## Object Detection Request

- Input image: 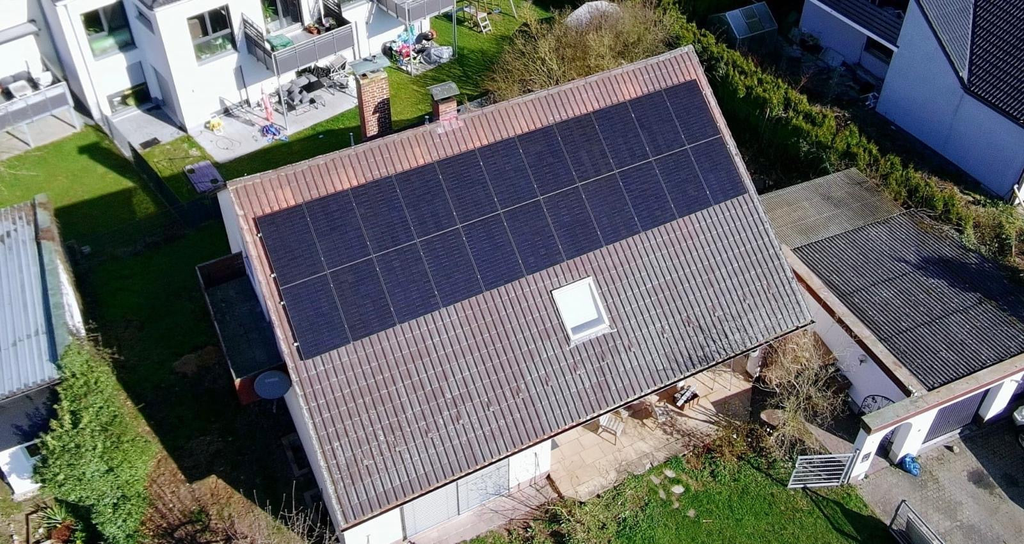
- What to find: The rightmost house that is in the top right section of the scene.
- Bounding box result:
[877,0,1024,199]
